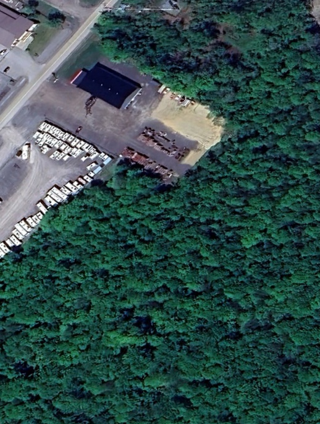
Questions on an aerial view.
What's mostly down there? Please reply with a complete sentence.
The largest share of the image is taken up by trees.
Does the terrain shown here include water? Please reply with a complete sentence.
No, the scene doesn't show any water.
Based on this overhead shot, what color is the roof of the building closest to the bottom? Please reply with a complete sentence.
The color of the roof on the building closest to the bottom is black.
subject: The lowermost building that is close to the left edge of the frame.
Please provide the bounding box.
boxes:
[0,5,39,51]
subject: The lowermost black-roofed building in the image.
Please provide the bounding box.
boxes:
[70,57,146,113]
